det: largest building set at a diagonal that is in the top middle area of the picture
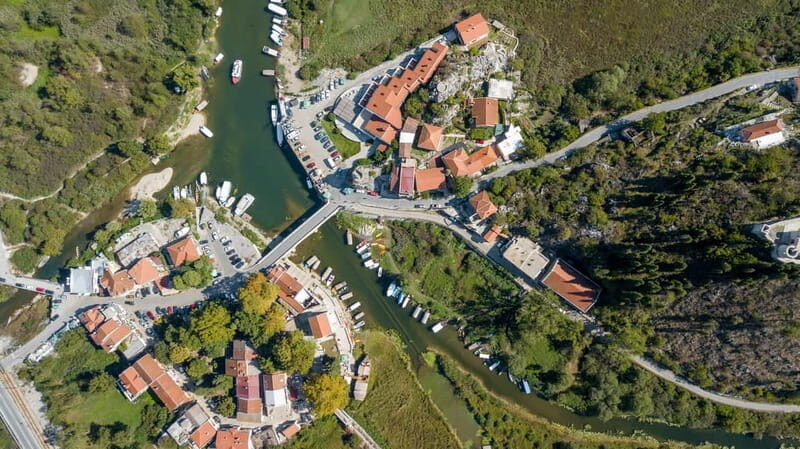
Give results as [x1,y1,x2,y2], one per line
[359,41,448,130]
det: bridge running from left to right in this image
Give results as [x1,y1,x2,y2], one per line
[9,275,64,299]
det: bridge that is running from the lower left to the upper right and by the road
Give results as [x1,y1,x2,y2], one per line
[257,200,337,269]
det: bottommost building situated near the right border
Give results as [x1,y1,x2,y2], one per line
[758,216,800,262]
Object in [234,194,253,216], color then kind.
white boat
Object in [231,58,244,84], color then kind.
white boat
